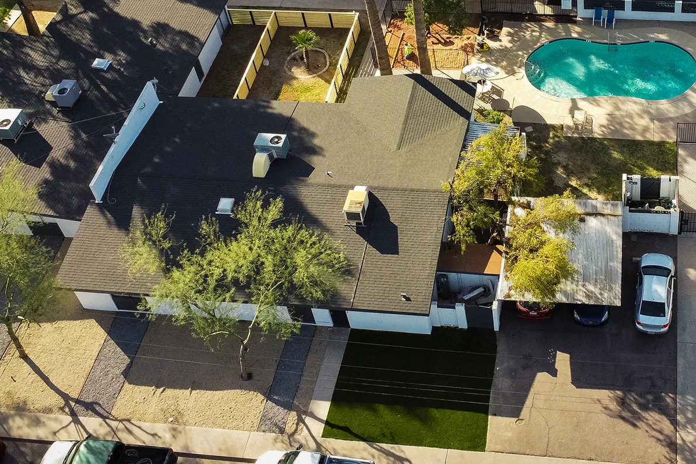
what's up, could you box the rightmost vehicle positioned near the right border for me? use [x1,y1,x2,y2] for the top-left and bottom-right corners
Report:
[632,247,679,334]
